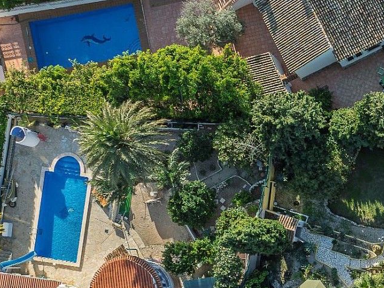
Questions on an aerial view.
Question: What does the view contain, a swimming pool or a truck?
swimming pool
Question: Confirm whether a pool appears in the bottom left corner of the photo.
Yes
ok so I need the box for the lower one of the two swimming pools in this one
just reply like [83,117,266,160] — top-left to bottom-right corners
[25,151,93,268]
